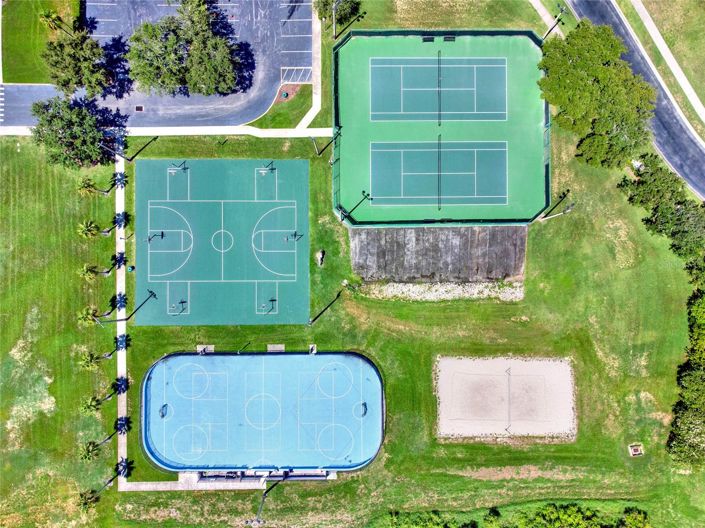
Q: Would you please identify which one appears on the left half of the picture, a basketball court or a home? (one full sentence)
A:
The one visible on the left half of the picture is a basketball court.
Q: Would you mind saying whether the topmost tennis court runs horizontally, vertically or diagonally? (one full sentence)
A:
Seen from above, the topmost tennis court lies horizontally.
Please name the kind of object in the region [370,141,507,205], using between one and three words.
tennis court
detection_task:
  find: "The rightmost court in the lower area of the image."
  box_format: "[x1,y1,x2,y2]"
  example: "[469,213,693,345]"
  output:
[437,357,576,438]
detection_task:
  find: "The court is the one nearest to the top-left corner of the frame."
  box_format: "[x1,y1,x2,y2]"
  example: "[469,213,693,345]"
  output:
[135,160,310,326]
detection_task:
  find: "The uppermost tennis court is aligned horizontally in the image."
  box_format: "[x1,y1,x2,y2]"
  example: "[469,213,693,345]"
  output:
[370,57,507,120]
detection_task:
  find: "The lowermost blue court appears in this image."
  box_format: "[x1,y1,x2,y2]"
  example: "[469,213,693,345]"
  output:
[138,356,383,474]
